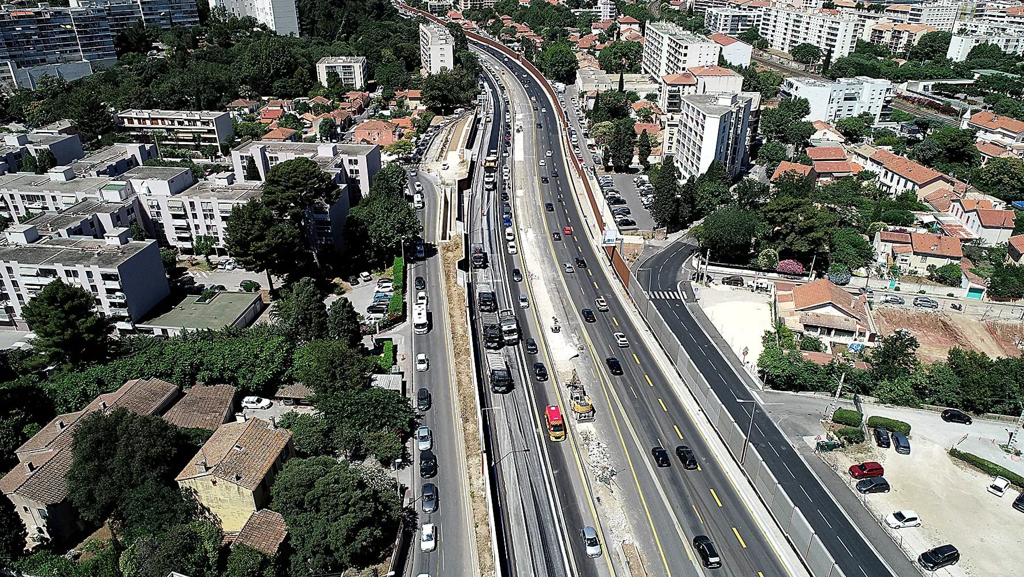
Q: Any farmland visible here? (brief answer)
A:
No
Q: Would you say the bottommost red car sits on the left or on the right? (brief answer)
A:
right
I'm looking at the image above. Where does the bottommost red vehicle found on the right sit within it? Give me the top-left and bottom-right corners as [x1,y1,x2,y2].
[846,459,886,479]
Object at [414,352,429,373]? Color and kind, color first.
white car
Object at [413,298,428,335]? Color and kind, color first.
white camper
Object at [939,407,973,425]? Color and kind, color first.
black car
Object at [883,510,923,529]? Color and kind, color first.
white car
